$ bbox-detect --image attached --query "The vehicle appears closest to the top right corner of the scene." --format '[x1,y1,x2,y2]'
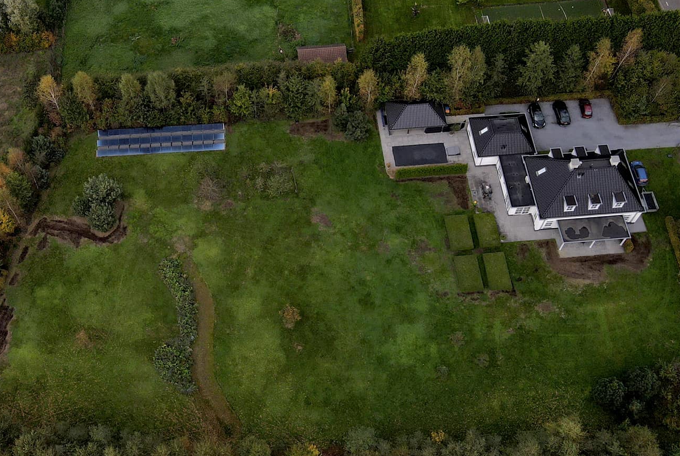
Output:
[578,99,595,119]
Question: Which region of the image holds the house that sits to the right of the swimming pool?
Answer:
right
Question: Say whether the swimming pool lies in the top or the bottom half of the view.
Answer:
top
